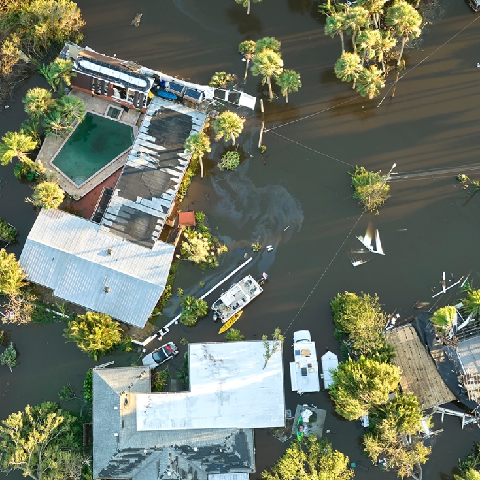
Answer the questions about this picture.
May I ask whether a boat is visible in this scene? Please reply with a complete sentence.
Yes, the photo shows a boat.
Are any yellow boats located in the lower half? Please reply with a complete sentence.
Yes, a yellow boat shows up in the lower half.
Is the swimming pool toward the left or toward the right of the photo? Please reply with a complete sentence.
The swimming pool sits on the left side.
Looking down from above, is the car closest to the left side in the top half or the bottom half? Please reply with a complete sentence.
The bottom half of the photo is where the car closest to the left side is.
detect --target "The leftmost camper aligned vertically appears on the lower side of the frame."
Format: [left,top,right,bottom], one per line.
[288,333,319,396]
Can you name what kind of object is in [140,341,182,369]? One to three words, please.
car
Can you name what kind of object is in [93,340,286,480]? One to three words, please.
house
